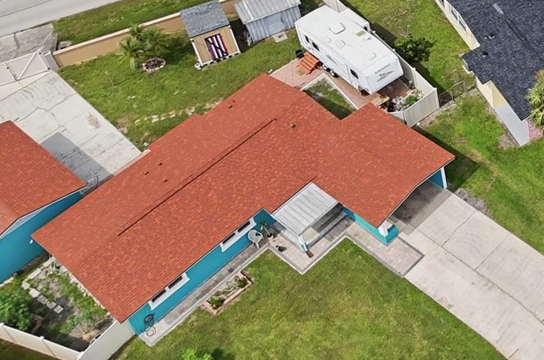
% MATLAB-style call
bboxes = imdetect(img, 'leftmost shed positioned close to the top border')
[182,0,237,59]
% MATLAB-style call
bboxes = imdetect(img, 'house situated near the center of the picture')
[30,73,456,336]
